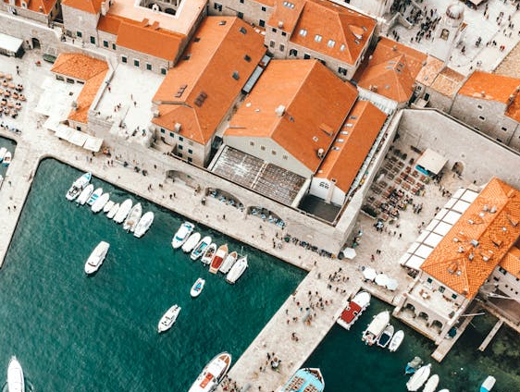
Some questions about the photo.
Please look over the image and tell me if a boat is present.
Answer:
Yes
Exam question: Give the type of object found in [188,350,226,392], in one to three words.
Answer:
boat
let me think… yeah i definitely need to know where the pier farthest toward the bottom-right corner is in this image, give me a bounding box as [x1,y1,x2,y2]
[477,318,506,352]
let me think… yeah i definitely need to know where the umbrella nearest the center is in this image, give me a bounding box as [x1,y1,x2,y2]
[342,244,358,259]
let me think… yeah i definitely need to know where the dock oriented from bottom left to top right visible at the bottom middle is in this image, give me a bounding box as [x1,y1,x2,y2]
[213,271,363,392]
